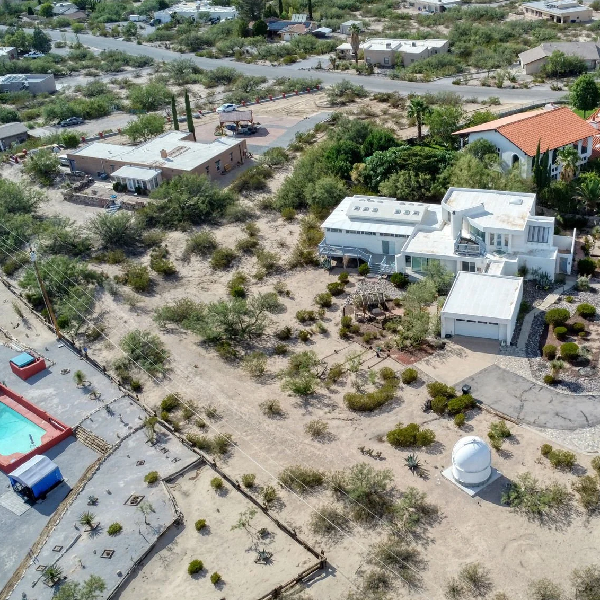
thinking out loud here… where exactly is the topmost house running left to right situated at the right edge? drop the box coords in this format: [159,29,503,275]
[509,0,592,30]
